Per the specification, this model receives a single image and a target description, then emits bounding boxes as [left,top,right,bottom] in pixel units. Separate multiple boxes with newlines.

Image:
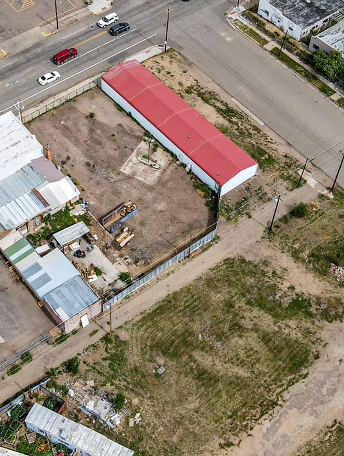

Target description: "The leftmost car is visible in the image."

[37,71,61,86]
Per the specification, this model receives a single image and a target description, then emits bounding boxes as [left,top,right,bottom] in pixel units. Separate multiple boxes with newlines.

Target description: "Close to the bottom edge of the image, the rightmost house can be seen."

[24,403,134,456]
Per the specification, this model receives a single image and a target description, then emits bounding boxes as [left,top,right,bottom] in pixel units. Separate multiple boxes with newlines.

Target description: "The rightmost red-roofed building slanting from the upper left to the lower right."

[98,59,256,200]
